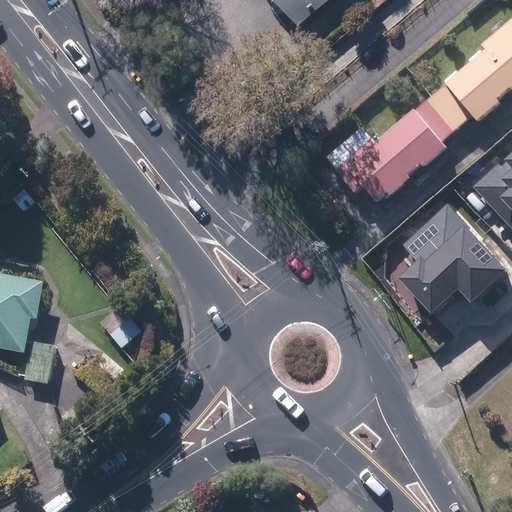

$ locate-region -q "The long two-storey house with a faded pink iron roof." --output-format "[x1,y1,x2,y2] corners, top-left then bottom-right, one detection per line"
[336,100,456,202]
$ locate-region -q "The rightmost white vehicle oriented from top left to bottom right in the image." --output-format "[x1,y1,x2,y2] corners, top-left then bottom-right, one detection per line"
[465,191,493,220]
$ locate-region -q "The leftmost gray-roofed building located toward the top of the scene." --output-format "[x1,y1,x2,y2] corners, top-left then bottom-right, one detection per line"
[270,0,328,34]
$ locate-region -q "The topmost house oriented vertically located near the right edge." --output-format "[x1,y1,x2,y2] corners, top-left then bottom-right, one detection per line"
[474,151,512,229]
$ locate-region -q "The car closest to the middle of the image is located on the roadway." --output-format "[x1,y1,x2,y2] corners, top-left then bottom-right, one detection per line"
[286,252,312,279]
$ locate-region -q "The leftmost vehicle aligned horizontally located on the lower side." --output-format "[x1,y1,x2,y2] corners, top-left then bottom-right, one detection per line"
[224,438,256,454]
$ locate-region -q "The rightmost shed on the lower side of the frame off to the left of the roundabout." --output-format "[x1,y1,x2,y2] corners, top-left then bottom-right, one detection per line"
[100,312,140,348]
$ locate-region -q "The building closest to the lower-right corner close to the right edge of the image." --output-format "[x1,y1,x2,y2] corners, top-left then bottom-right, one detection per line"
[399,204,506,314]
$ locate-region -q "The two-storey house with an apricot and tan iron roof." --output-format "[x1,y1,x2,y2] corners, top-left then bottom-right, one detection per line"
[428,21,512,130]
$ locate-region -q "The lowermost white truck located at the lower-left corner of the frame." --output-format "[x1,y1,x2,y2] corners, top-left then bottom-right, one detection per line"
[40,486,74,512]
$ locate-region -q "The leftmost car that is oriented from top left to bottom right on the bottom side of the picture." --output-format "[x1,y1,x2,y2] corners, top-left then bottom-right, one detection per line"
[207,305,230,334]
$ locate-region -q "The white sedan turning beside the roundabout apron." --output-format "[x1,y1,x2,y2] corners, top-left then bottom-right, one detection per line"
[274,388,303,417]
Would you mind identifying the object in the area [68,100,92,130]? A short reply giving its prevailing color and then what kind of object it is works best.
white car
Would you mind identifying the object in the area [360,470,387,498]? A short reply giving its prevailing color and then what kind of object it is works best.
white car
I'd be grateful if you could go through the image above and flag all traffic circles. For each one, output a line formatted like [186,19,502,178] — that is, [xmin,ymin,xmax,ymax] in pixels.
[270,322,341,393]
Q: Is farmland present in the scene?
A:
No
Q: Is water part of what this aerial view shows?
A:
No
